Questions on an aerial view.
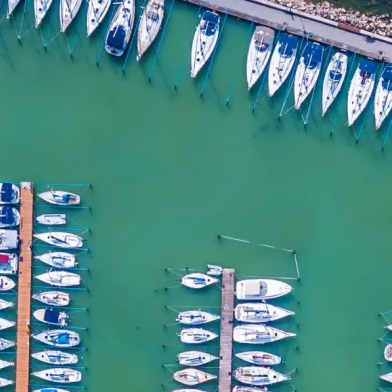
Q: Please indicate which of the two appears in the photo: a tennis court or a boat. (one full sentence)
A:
Of the two, only a boat appears.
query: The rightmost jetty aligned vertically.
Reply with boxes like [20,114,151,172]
[219,269,235,392]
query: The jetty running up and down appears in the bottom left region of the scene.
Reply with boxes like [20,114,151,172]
[15,182,34,392]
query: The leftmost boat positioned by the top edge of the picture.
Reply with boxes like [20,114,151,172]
[6,0,22,21]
